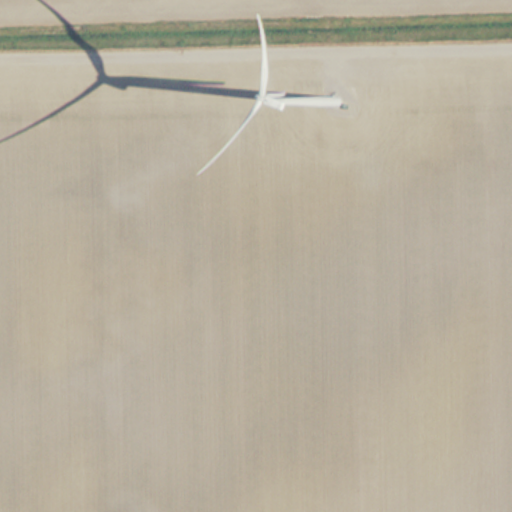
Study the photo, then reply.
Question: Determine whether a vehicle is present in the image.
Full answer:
No, the picture doesn't show any vehicle.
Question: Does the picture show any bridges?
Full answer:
No, there is no bridge in the image.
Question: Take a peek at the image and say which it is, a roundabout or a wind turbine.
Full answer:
Looking from above, you can make out a wind turbine.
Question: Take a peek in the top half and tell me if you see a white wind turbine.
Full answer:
Yes, a white wind turbine shows up in the top half.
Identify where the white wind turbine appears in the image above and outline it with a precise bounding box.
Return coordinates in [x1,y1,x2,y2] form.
[200,14,343,172]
